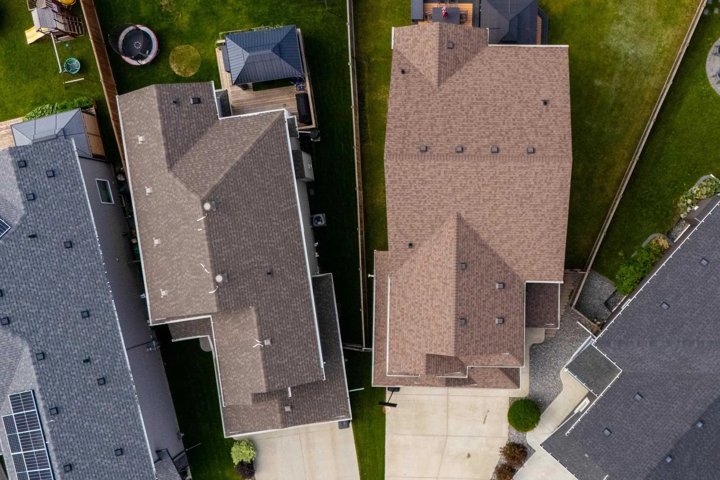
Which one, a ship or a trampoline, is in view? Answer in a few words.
trampoline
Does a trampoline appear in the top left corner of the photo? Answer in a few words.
Yes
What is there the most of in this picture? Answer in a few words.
buildings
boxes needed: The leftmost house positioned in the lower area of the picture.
[0,137,202,480]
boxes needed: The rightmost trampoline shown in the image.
[107,18,162,67]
